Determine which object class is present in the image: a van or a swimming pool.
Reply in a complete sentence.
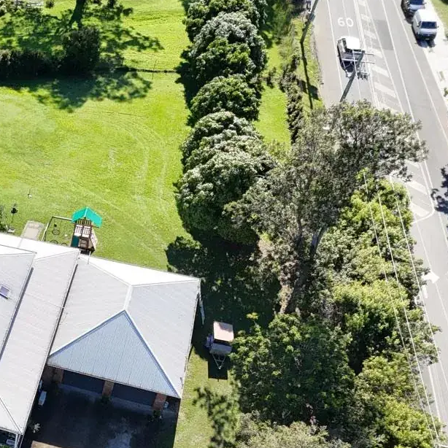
Visible in the photo is a van.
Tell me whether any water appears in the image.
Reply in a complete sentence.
No, the scene doesn't show any water.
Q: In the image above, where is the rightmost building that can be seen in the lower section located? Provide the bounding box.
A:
[47,253,199,414]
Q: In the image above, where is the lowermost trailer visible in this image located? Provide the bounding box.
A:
[199,315,237,372]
